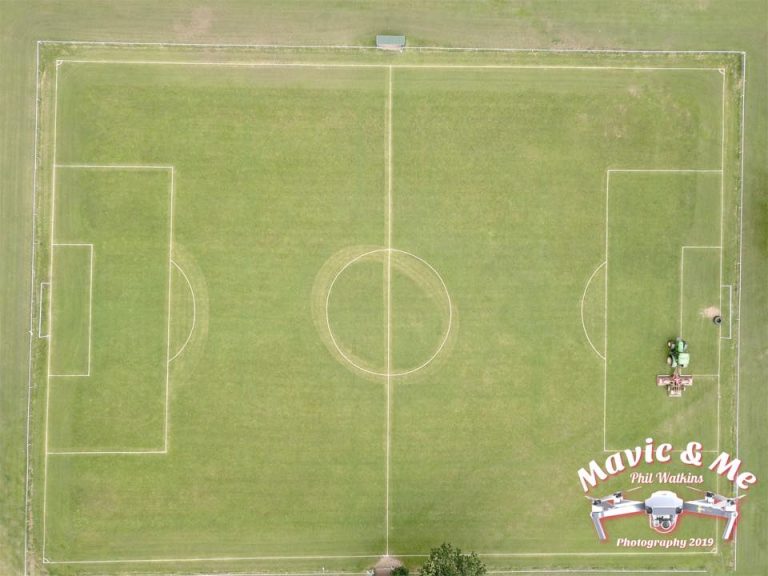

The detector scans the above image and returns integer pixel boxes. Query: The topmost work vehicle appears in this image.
[667,335,689,367]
